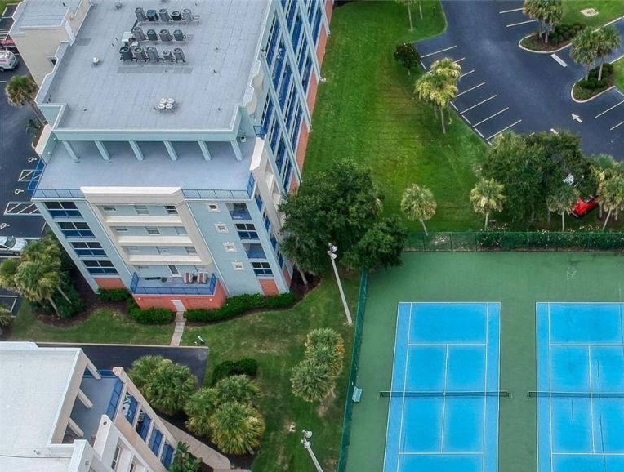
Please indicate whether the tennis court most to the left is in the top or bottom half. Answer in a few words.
bottom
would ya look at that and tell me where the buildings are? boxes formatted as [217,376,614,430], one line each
[7,0,333,312]
[0,346,182,472]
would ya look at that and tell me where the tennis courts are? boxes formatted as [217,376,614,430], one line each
[518,255,624,472]
[345,255,518,472]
